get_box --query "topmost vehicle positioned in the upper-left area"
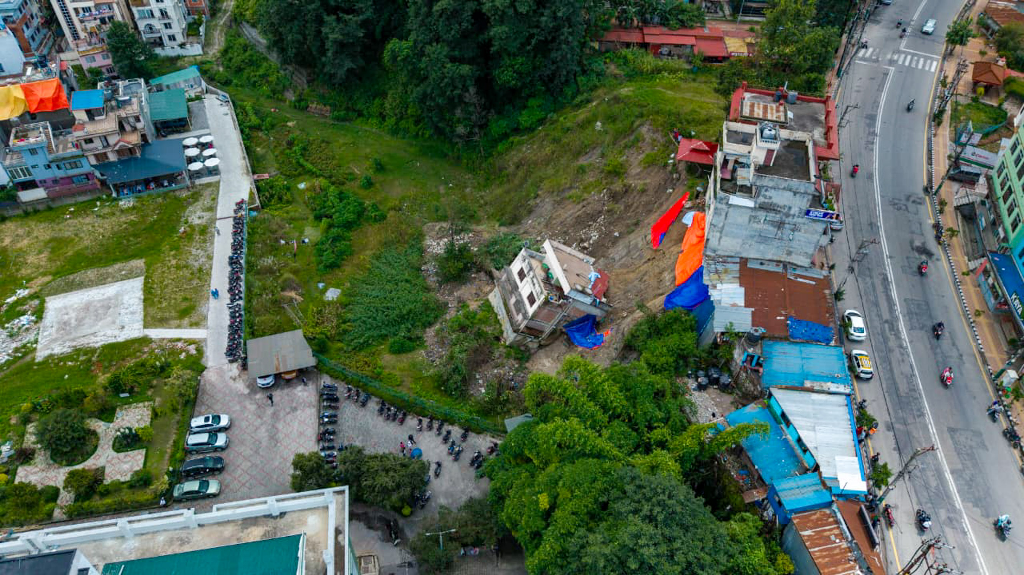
[211,89,234,103]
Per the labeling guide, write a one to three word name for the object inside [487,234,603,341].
house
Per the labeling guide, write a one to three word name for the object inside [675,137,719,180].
building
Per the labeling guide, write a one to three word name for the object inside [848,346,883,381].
car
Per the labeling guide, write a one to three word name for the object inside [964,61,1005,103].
gazebo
